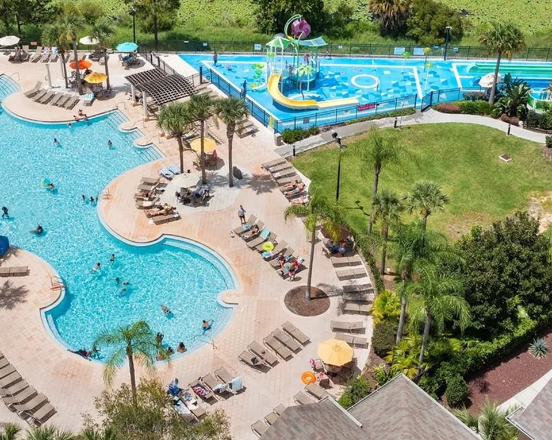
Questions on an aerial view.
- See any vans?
No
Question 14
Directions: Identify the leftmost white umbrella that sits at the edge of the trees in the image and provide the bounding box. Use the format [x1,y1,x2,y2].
[0,37,19,65]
